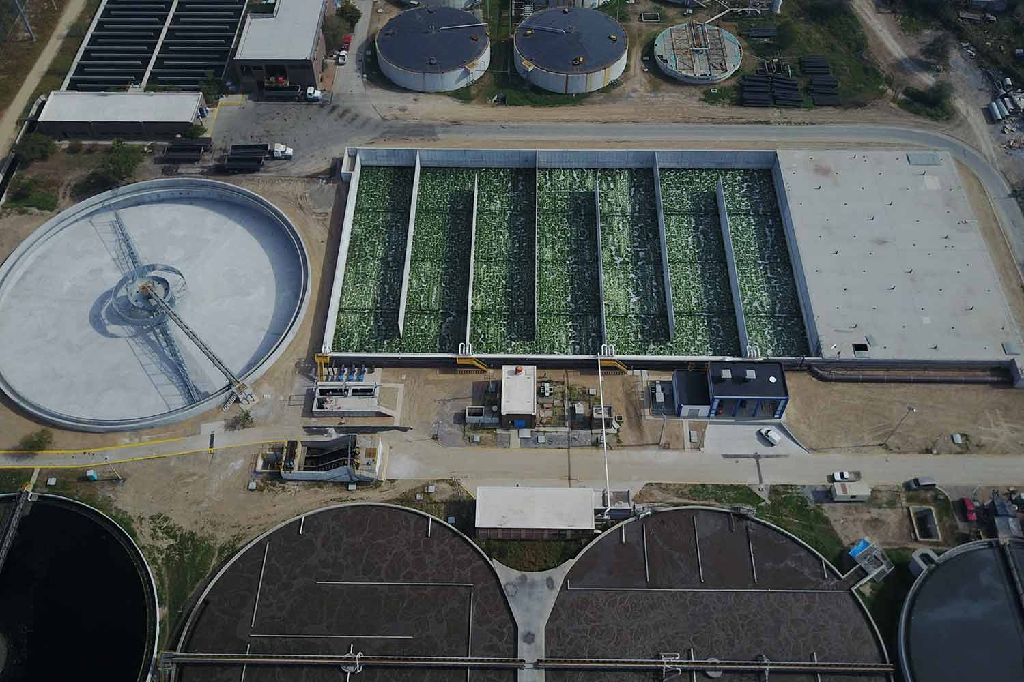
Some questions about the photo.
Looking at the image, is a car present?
Yes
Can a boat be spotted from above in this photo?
No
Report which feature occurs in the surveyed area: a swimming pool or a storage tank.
storage tank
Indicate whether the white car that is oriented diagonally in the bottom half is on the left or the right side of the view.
right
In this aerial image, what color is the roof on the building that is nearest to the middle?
white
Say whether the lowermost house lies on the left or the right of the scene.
right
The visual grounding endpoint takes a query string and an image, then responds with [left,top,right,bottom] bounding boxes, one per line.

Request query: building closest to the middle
[502,364,537,426]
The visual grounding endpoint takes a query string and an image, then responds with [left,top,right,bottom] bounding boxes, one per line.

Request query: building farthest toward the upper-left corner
[39,90,204,142]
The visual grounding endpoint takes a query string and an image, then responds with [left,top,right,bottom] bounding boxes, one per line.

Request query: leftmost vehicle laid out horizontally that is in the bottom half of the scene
[831,469,861,481]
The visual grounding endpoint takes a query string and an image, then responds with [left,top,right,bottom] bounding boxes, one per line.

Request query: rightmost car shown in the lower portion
[959,497,977,521]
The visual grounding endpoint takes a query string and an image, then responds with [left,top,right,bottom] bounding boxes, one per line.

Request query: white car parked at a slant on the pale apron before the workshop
[760,425,783,445]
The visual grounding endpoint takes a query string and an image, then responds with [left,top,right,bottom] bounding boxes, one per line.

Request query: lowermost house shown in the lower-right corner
[845,539,896,590]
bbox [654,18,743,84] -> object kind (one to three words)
storage tank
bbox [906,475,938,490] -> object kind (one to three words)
vehicle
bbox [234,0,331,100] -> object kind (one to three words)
building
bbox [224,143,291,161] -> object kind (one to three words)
vehicle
